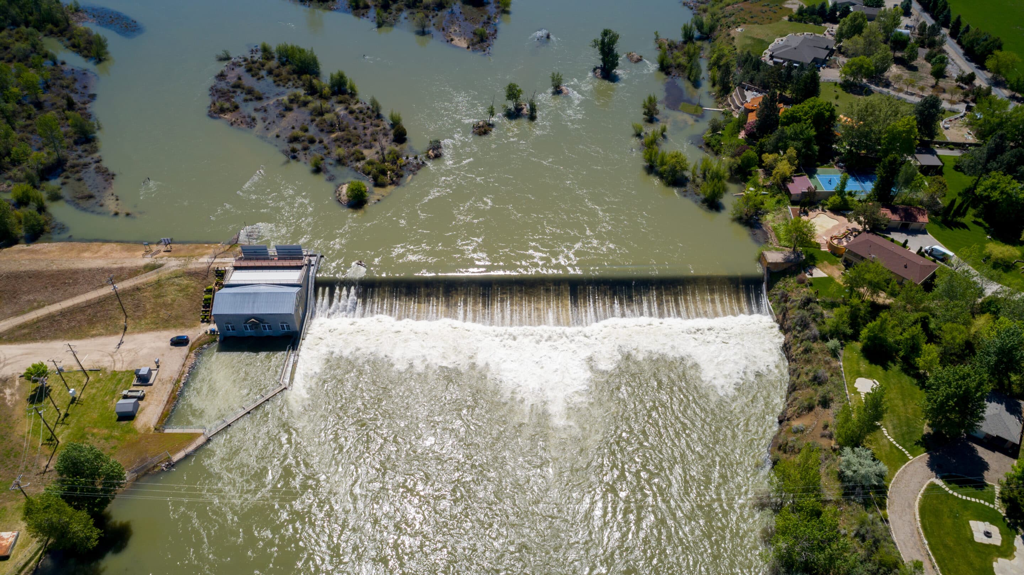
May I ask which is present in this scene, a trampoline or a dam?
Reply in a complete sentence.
The image shows a dam.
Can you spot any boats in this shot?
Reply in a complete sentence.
No, the scene contains no boat.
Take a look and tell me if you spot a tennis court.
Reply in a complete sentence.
Yes, there's a tennis court here.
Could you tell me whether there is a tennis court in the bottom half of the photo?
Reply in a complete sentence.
No, in the bottom half of the photo there is no tennis court.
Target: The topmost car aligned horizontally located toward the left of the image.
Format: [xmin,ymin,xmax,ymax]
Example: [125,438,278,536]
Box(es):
[166,335,191,347]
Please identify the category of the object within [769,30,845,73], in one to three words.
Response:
house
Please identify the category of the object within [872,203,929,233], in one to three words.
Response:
building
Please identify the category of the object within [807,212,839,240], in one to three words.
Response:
swimming pool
